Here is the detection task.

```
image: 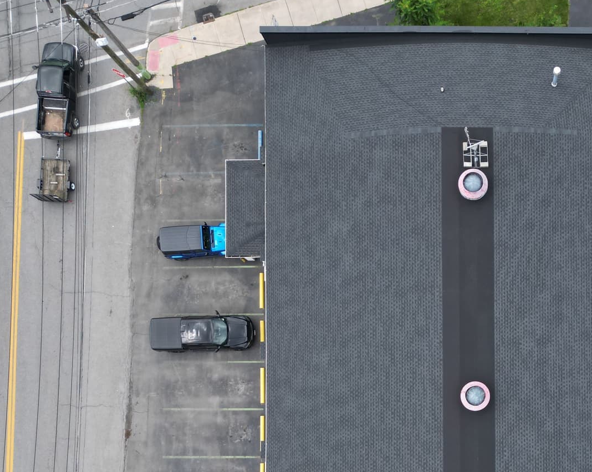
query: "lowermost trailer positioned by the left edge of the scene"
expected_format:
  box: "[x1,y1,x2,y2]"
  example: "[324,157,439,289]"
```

[27,141,78,204]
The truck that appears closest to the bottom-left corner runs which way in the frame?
from left to right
